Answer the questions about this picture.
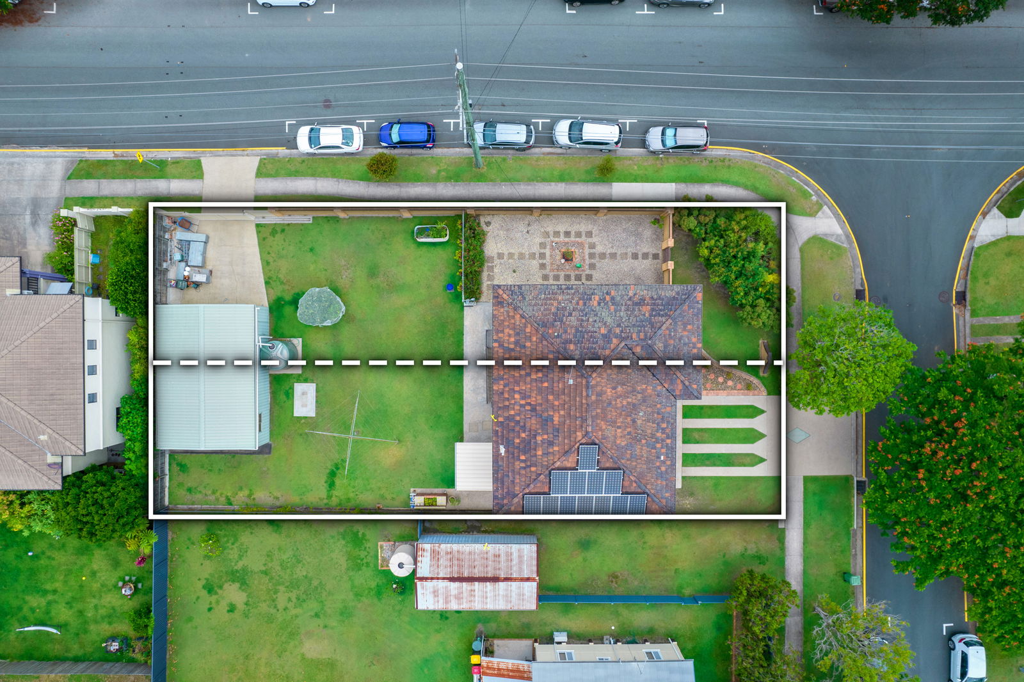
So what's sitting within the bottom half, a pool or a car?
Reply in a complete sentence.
You can see a car within the bottom half.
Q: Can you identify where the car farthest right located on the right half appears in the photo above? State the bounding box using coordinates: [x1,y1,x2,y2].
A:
[947,632,988,682]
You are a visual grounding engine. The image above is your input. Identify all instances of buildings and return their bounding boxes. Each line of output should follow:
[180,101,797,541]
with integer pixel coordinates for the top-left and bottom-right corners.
[532,640,694,682]
[487,283,704,523]
[0,255,125,491]
[155,302,269,452]
[414,535,539,611]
